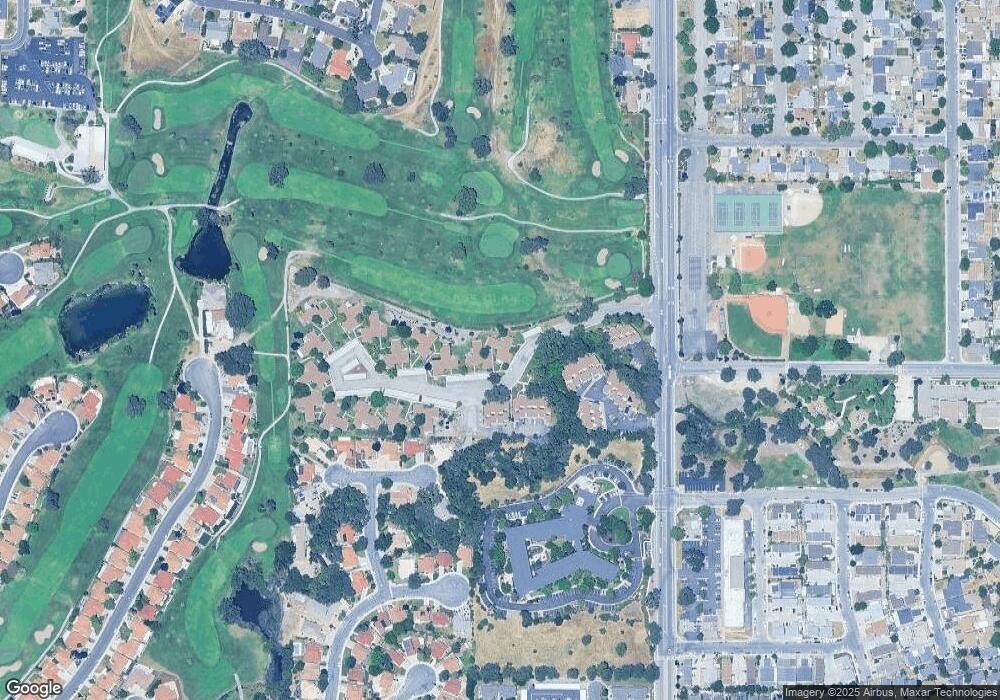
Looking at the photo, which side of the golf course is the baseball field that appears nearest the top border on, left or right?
on the right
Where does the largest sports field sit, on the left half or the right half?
right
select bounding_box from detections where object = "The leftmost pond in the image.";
[60,284,152,358]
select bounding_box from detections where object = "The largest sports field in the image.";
[784,188,944,361]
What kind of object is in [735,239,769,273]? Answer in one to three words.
baseball field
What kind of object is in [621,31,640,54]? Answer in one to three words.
house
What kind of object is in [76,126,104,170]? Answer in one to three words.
barn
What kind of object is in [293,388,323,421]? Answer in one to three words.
building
